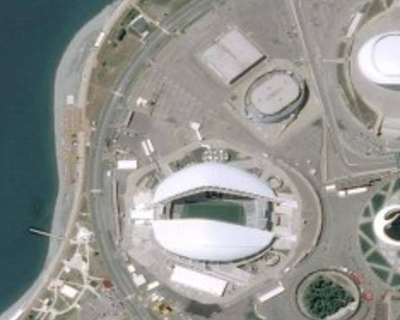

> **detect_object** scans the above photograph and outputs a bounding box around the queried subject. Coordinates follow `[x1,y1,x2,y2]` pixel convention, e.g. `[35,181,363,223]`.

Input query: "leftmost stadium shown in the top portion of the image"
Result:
[243,68,310,122]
